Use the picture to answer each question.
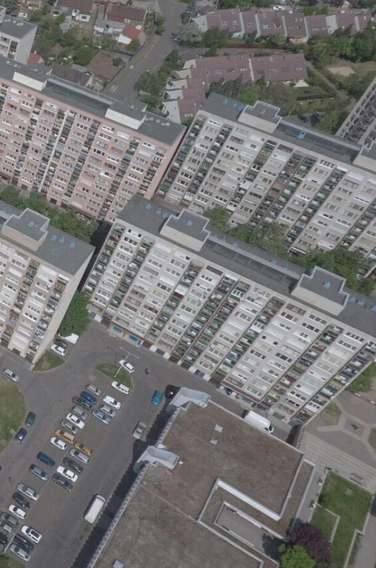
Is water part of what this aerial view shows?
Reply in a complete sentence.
No, there's no water in this view.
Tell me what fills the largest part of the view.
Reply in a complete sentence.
For the most part, this view shows buildings.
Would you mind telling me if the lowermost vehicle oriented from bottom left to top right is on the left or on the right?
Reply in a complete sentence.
It is on the left.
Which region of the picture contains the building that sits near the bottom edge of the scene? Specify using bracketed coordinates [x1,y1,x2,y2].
[93,387,316,568]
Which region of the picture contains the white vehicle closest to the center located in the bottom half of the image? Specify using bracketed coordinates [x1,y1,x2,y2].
[115,359,137,374]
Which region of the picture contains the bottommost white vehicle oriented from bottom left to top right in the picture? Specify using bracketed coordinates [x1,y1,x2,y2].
[83,498,105,522]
